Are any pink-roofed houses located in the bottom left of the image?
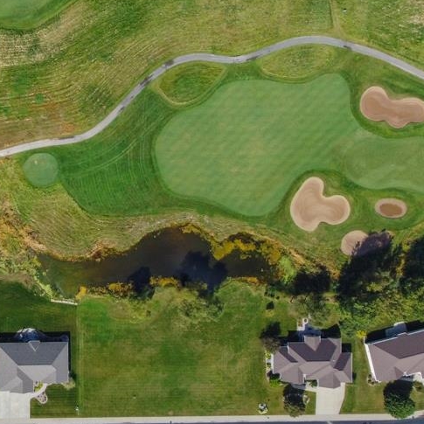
No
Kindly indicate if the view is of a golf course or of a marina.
golf course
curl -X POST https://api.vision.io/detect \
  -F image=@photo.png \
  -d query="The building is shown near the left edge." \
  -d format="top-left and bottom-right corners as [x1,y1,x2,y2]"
[0,340,69,393]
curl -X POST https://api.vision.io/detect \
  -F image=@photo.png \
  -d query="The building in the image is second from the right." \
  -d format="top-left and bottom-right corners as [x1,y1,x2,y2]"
[270,335,353,388]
